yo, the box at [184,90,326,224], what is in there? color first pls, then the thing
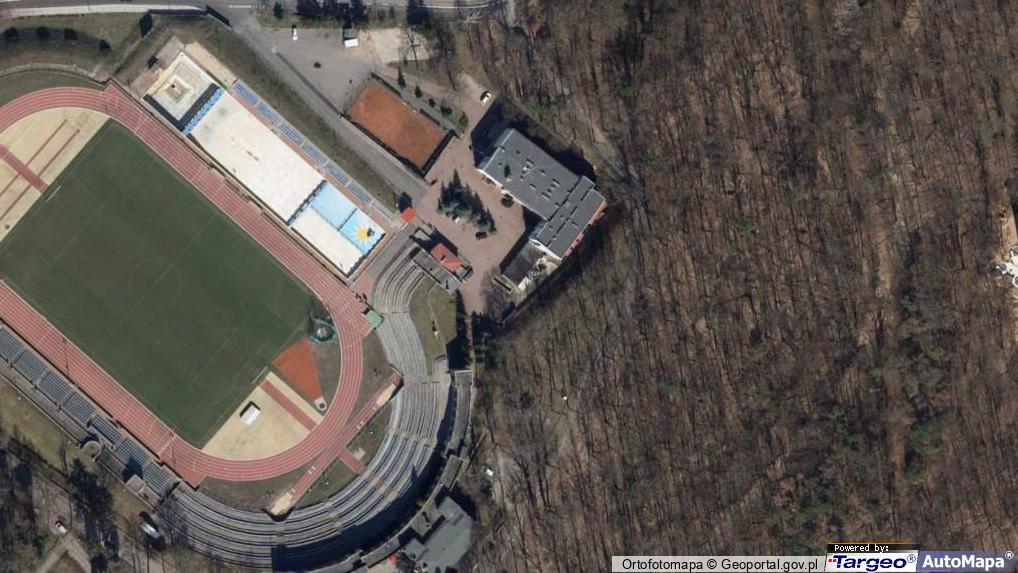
white swimming pool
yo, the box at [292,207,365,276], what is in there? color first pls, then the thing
white swimming pool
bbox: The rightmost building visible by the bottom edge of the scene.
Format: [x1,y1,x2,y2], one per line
[403,495,473,573]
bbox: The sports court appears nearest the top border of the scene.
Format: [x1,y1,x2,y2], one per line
[344,77,449,169]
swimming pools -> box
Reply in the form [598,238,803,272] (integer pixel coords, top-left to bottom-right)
[184,90,326,224]
[338,208,386,255]
[143,52,218,128]
[292,207,365,276]
[310,183,357,230]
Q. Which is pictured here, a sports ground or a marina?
sports ground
